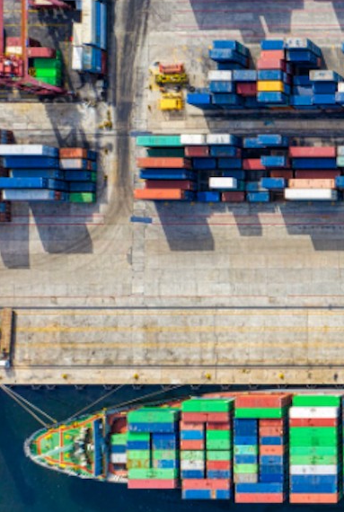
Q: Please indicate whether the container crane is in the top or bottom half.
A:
top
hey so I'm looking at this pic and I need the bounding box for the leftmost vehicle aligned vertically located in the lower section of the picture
[0,309,15,368]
